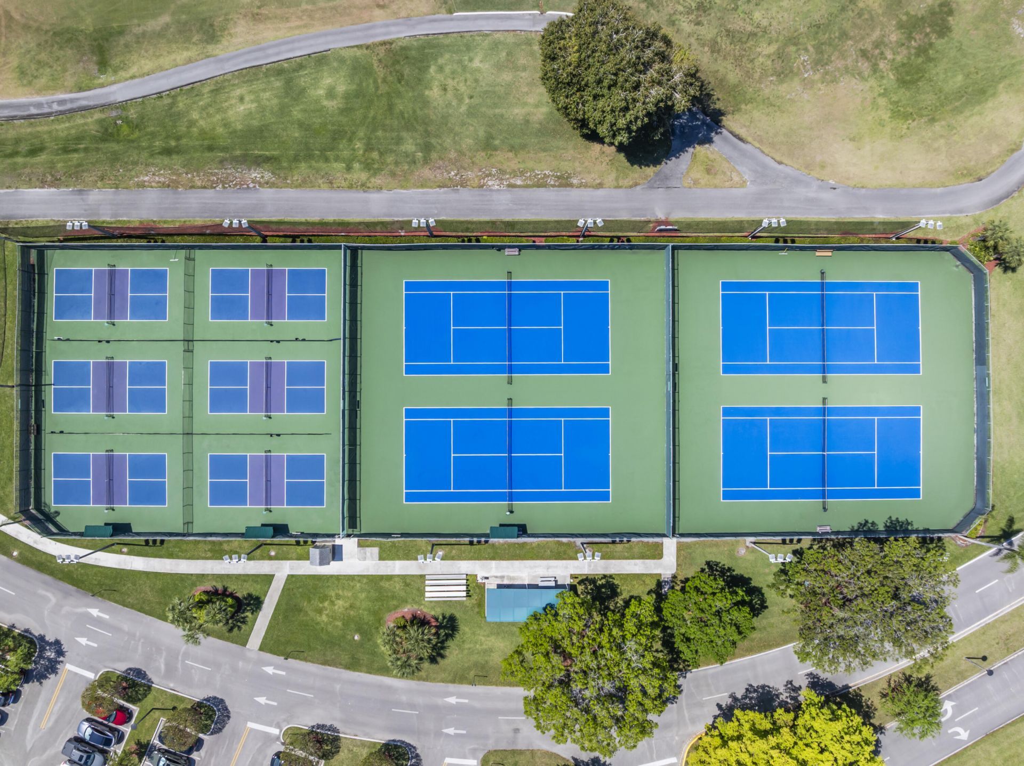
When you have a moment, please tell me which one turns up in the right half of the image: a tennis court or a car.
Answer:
tennis court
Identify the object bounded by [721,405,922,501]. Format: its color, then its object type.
blue tennis court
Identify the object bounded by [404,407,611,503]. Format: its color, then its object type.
blue tennis court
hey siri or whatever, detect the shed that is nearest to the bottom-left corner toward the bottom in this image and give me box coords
[309,544,332,569]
